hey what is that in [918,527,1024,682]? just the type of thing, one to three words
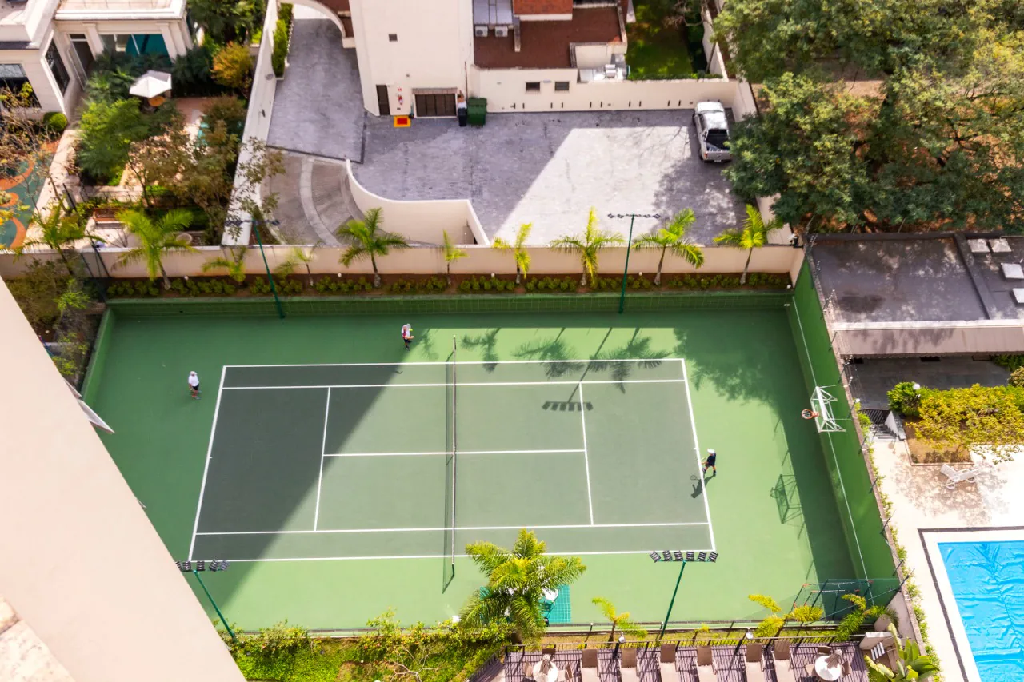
swimming pool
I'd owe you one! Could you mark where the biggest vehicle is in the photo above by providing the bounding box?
[692,102,737,164]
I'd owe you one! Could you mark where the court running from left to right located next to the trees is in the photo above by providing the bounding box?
[85,306,858,643]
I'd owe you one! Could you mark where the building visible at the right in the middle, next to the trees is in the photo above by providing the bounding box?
[806,227,1024,353]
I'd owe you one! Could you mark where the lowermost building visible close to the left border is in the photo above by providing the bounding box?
[0,260,234,682]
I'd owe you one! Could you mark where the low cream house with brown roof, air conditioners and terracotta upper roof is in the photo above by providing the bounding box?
[473,0,625,114]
